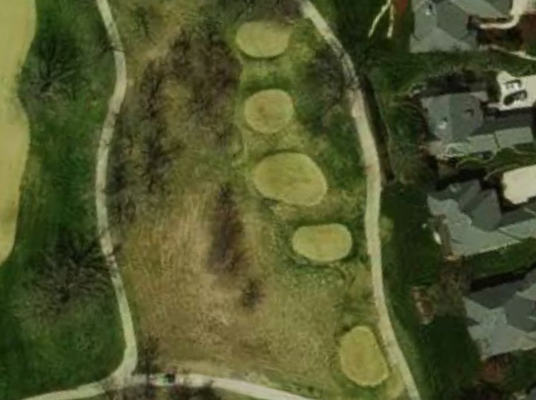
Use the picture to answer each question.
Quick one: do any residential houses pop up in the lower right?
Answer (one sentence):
Yes, you'll find a residential house in the lower right.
